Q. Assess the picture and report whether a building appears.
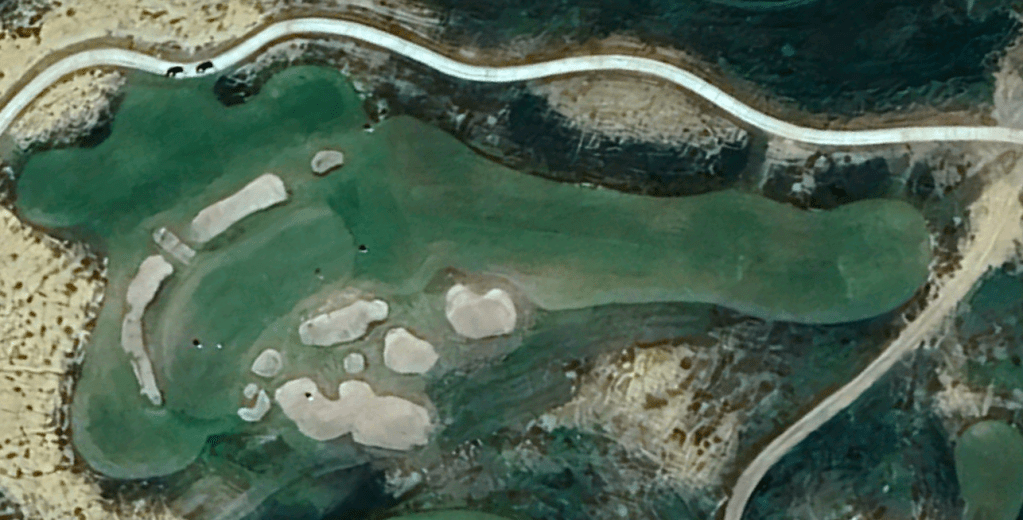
No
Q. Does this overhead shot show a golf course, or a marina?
golf course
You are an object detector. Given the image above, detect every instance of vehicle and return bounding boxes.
[168,68,184,77]
[198,64,214,75]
